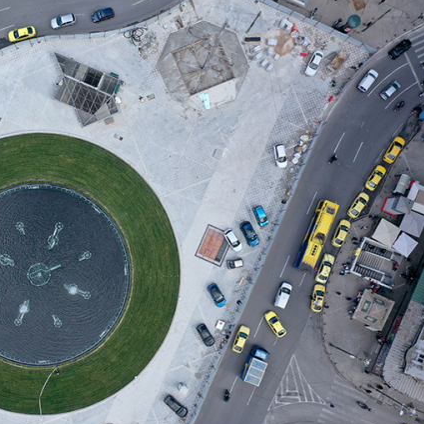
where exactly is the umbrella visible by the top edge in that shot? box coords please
[334,14,362,35]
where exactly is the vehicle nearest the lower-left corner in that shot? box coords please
[163,392,188,419]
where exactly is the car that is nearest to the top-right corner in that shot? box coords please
[385,37,414,62]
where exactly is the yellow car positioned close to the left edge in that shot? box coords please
[8,26,37,43]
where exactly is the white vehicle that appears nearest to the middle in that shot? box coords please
[222,228,242,253]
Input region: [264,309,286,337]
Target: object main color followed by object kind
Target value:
yellow car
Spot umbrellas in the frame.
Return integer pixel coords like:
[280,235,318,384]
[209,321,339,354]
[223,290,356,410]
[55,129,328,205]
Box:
[372,219,400,247]
[391,232,418,257]
[400,210,424,237]
[334,14,362,35]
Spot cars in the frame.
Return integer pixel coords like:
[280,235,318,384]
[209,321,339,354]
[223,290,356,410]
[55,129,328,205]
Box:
[8,26,37,43]
[355,68,380,95]
[222,228,242,253]
[264,309,286,337]
[273,143,289,168]
[194,321,216,348]
[239,220,259,248]
[385,37,414,62]
[49,13,77,29]
[365,163,385,192]
[347,191,368,219]
[89,6,117,24]
[233,324,249,353]
[207,281,226,309]
[330,219,350,248]
[304,49,324,77]
[316,253,334,282]
[378,79,401,102]
[226,258,245,271]
[310,283,326,312]
[252,203,269,228]
[382,137,405,165]
[274,282,292,309]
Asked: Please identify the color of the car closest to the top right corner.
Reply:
black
